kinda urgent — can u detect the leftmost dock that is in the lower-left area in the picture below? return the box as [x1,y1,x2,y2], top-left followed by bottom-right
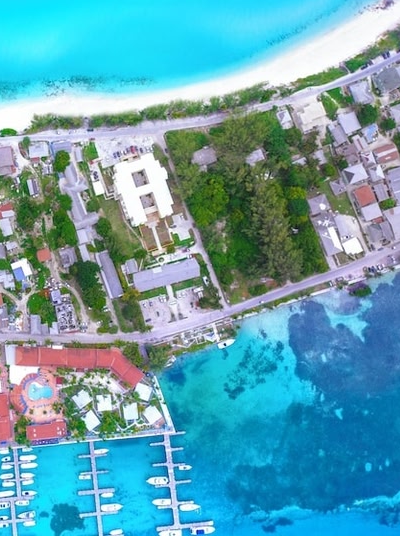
[0,446,35,536]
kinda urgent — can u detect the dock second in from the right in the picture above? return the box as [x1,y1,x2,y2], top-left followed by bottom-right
[78,440,118,536]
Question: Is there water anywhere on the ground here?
Yes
